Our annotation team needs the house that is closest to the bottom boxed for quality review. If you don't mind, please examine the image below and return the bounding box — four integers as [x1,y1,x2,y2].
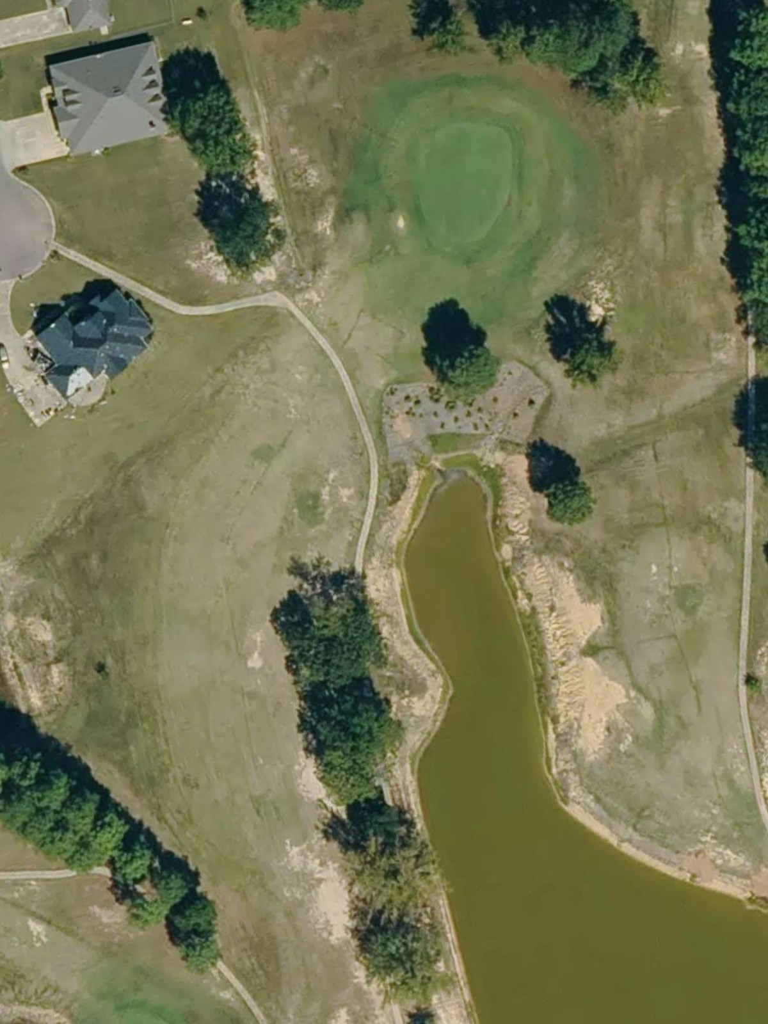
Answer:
[37,289,153,397]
